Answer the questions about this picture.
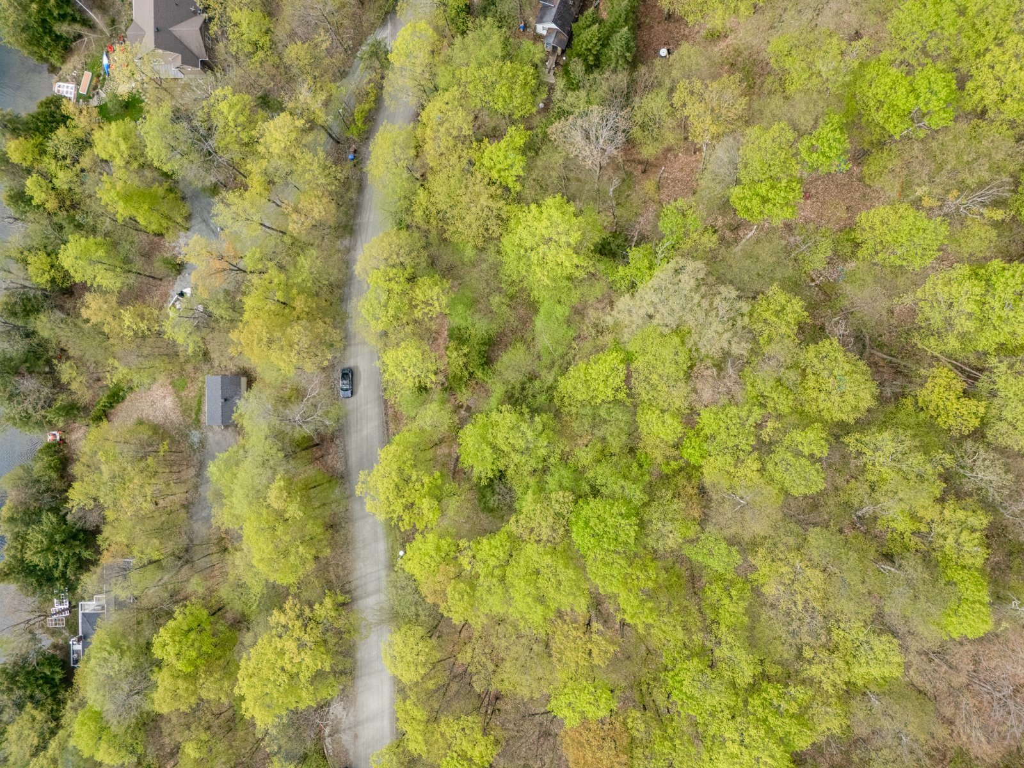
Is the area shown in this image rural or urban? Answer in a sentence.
The area is rural.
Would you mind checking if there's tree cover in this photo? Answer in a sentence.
Yes, there's tree cover in this view.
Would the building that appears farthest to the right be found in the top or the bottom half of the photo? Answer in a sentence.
The top half of the photo is where the building that appears farthest to the right is.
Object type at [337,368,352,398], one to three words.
car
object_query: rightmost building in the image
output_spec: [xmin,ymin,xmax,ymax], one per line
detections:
[537,0,586,59]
